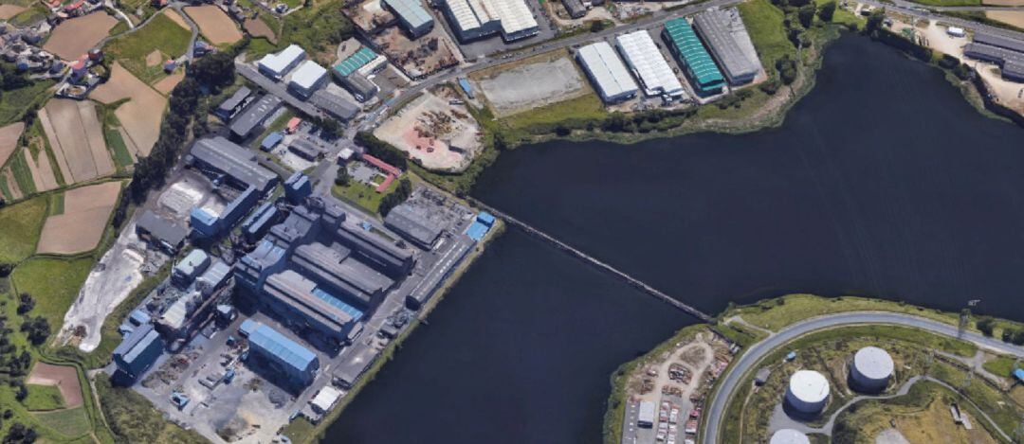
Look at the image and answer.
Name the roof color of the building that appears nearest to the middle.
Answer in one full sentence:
The roof of the building that appears nearest to the middle is blue.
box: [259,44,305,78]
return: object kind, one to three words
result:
building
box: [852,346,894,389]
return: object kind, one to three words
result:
storage tank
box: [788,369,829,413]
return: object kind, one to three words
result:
storage tank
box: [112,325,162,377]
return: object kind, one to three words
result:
shed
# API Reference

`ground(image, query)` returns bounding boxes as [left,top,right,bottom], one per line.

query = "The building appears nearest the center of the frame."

[465,211,495,245]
